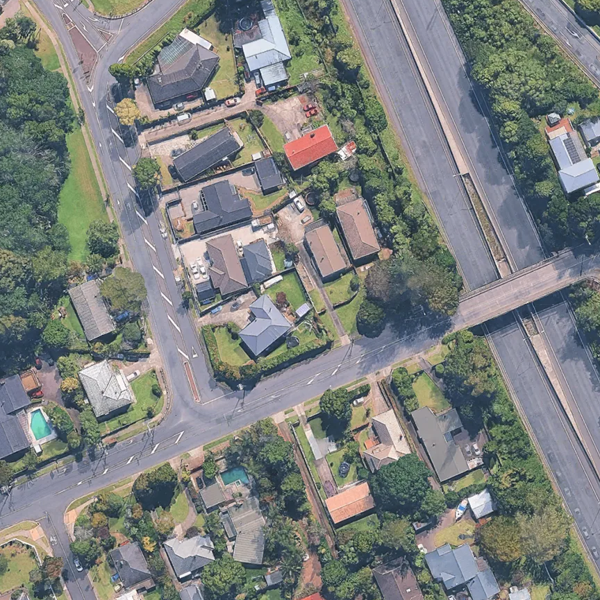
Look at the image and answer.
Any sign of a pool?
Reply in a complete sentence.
Yes, the picture does show a pool.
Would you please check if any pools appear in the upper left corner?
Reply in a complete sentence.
No, I can find no pool in the upper left corner.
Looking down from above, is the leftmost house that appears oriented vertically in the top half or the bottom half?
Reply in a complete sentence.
Seen from above, the leftmost house that appears oriented vertically lies in the bottom half of the view.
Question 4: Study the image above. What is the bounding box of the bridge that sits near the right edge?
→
[448,238,600,333]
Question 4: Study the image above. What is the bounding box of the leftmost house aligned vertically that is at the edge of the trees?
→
[0,369,42,461]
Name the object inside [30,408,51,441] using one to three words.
swimming pool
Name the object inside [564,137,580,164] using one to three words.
solar panel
